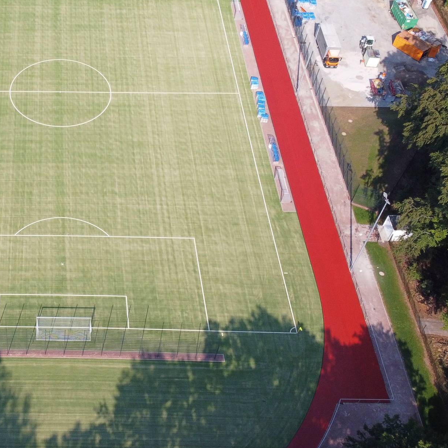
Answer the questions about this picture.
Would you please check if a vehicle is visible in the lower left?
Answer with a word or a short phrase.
No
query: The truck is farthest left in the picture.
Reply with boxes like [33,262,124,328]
[317,24,342,66]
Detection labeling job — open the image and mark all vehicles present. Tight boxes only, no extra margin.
[317,24,342,66]
[359,38,374,54]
